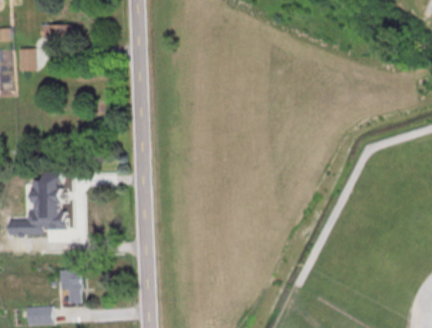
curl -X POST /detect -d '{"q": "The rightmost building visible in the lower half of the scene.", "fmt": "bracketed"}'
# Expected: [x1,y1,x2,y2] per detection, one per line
[60,272,82,306]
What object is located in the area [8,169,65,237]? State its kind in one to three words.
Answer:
house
